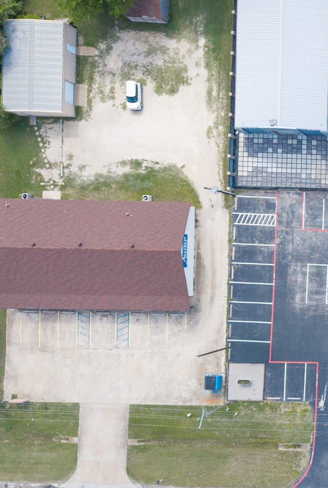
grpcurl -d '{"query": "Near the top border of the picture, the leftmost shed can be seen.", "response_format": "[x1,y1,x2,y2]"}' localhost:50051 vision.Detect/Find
[1,18,76,116]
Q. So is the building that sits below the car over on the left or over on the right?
left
